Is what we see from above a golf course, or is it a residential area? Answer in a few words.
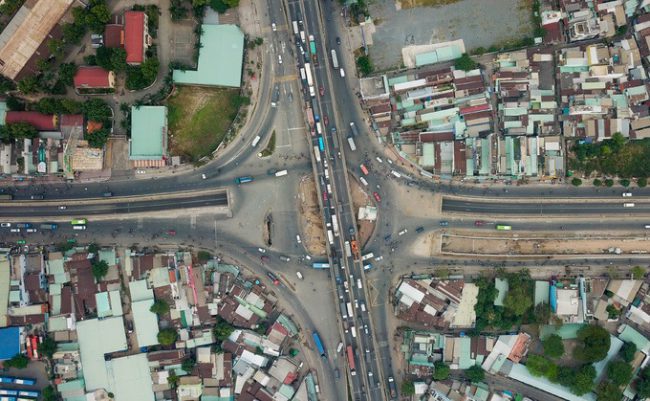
residential area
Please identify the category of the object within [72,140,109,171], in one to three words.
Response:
house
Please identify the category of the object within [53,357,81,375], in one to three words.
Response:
house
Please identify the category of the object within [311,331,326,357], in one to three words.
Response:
vehicle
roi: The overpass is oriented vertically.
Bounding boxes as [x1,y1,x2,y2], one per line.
[286,0,387,401]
